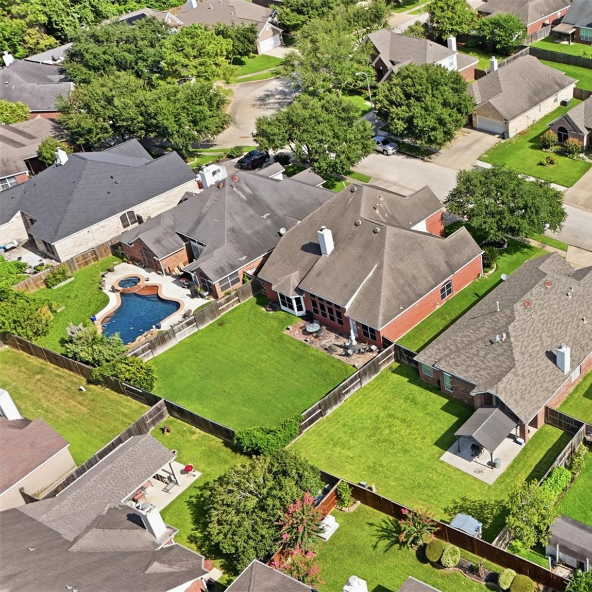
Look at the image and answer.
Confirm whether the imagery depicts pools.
Yes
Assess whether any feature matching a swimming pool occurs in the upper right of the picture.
No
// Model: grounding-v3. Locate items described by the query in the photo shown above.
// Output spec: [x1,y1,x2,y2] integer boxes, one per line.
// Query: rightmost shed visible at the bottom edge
[545,510,592,570]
